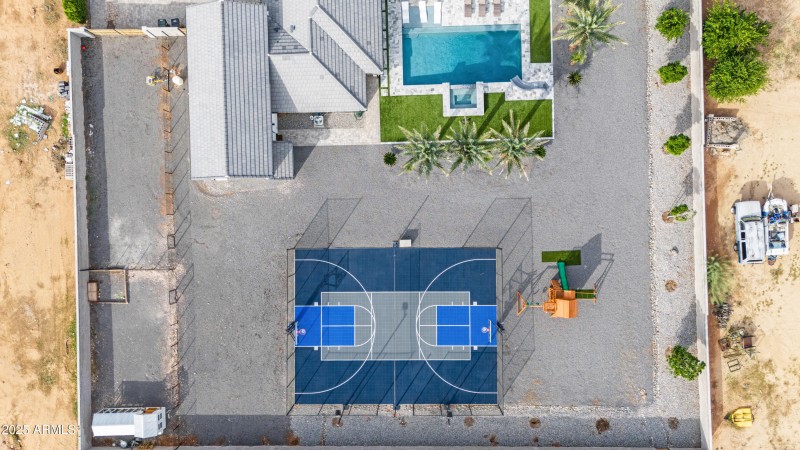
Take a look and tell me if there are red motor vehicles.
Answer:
No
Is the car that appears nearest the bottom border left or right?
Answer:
right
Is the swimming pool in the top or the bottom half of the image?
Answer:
top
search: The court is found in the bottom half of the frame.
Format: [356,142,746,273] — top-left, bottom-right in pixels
[288,247,504,406]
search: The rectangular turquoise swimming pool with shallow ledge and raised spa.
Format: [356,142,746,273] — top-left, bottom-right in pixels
[402,6,521,116]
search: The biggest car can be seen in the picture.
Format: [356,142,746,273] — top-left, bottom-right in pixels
[733,201,769,264]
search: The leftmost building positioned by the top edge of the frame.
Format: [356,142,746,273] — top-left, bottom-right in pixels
[185,0,296,180]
